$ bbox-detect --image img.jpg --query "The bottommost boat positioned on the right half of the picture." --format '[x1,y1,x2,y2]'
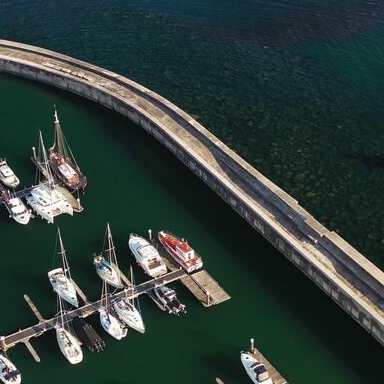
[240,352,273,384]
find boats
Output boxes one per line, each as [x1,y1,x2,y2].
[52,284,84,369]
[91,221,126,296]
[130,234,170,279]
[5,197,31,227]
[111,264,147,335]
[240,352,273,384]
[0,341,22,384]
[45,227,85,315]
[27,133,80,230]
[77,319,108,357]
[95,274,130,343]
[159,228,208,279]
[153,284,184,318]
[46,107,96,193]
[0,150,22,191]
